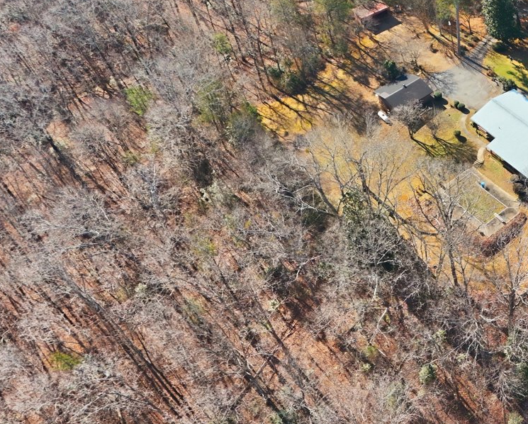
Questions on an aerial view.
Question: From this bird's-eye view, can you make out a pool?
Yes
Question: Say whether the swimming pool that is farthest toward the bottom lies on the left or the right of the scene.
right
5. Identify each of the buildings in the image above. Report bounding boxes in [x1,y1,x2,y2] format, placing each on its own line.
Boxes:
[470,90,528,183]
[375,73,433,121]
[352,0,391,28]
